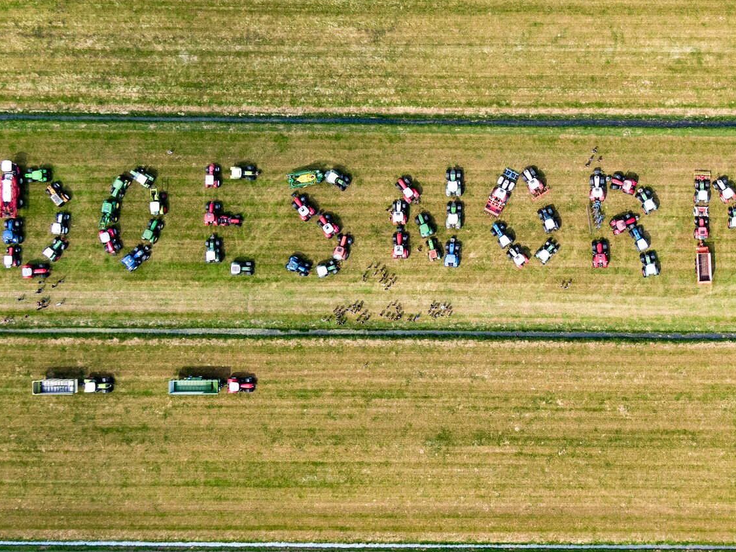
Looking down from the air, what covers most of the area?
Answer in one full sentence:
The largest share of the image is taken up by grass.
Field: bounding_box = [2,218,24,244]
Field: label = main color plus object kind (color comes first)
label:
blue work vehicle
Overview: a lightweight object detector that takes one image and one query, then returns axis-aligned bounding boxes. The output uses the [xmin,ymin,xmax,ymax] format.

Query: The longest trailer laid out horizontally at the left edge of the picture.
[32,377,84,396]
